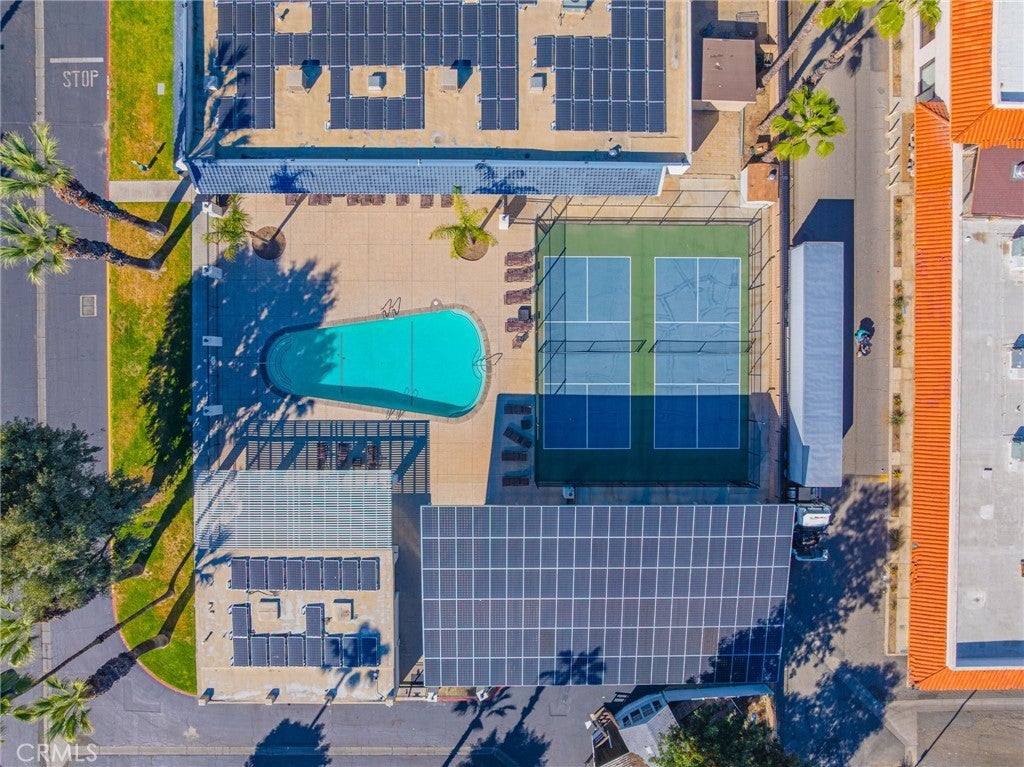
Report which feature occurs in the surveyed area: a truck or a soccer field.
truck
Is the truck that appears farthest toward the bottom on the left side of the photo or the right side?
right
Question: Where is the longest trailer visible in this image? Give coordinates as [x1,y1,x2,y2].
[790,241,844,488]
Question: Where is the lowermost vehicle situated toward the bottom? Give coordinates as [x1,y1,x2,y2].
[783,483,838,561]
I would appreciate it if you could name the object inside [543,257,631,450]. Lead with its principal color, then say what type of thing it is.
blue sports court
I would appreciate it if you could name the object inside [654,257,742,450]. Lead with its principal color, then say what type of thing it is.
blue sports court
